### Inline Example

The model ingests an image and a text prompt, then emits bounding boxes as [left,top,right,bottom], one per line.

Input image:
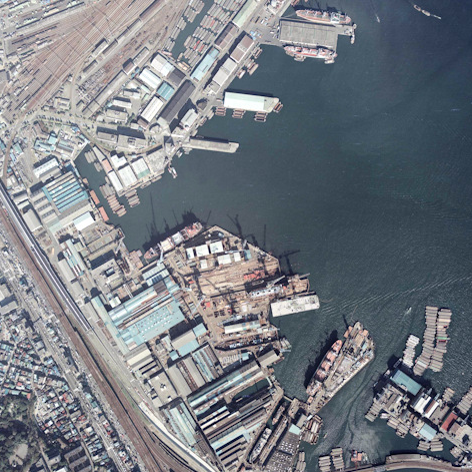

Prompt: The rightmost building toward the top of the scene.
[279,20,337,49]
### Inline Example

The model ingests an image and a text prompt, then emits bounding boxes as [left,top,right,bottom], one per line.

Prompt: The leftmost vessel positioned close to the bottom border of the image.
[248,429,270,463]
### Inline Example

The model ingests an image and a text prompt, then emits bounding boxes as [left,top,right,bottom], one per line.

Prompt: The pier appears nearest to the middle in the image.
[271,295,320,316]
